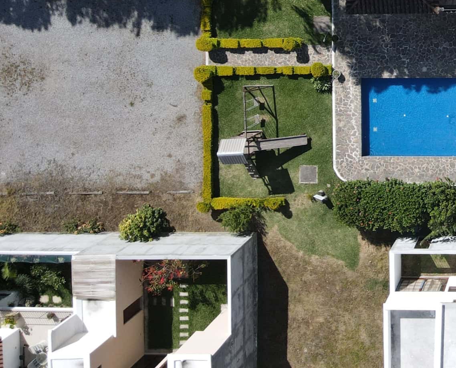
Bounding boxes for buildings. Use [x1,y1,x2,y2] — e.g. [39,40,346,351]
[383,238,456,368]
[0,232,255,368]
[343,0,442,16]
